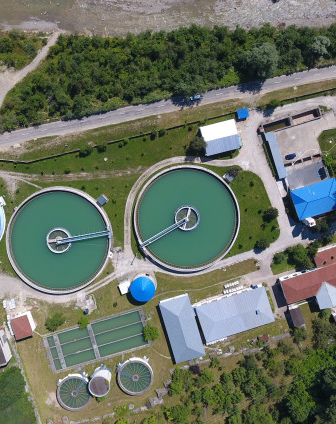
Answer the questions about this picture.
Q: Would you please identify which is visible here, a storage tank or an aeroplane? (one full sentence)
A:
I can see a storage tank in this picture.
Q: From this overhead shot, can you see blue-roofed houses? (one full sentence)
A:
Yes, the image includes a blue-roofed house.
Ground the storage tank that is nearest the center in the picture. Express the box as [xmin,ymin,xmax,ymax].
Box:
[134,165,241,272]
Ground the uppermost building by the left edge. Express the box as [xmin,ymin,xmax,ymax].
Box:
[11,314,35,340]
